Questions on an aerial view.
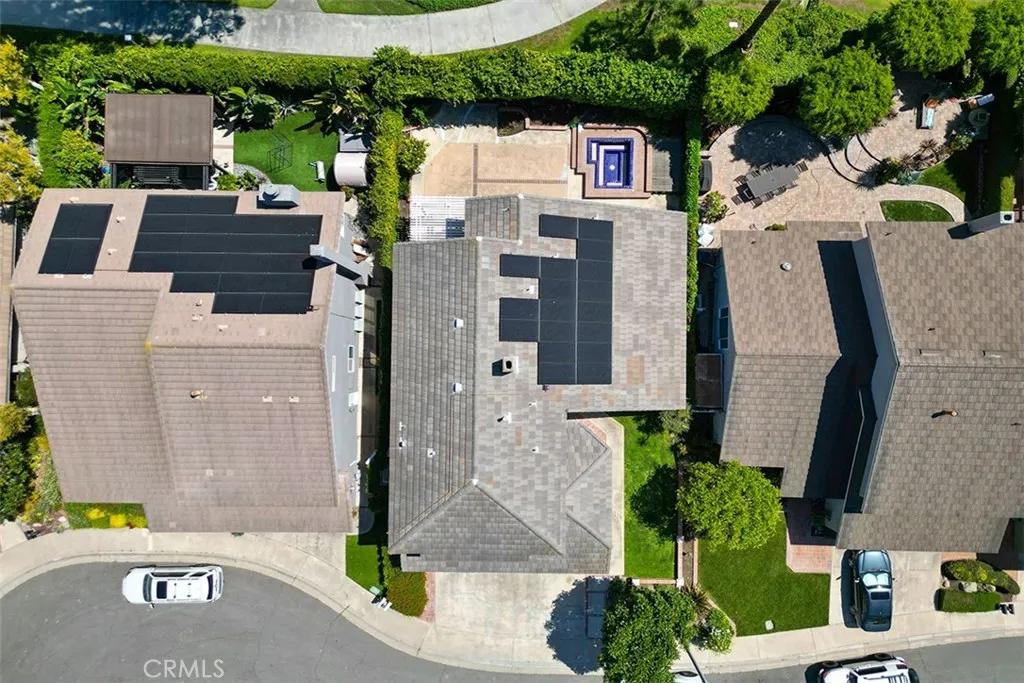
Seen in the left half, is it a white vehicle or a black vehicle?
white vehicle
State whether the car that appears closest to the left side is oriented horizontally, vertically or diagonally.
horizontally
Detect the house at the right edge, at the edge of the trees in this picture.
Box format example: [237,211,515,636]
[712,209,1024,550]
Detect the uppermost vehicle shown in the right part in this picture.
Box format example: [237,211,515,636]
[849,548,899,633]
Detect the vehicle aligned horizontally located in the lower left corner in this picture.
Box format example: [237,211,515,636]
[121,559,225,611]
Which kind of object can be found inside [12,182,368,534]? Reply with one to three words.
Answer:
house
